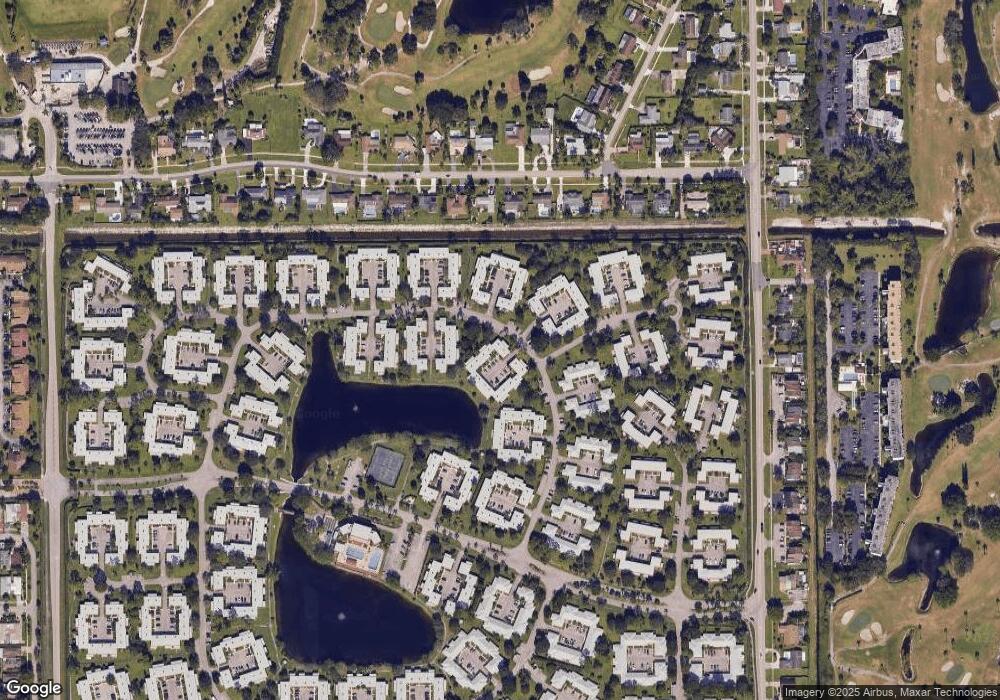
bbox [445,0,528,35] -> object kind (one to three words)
pond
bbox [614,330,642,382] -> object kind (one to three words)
building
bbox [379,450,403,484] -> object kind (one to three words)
tennis court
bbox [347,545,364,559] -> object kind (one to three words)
swimming pool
